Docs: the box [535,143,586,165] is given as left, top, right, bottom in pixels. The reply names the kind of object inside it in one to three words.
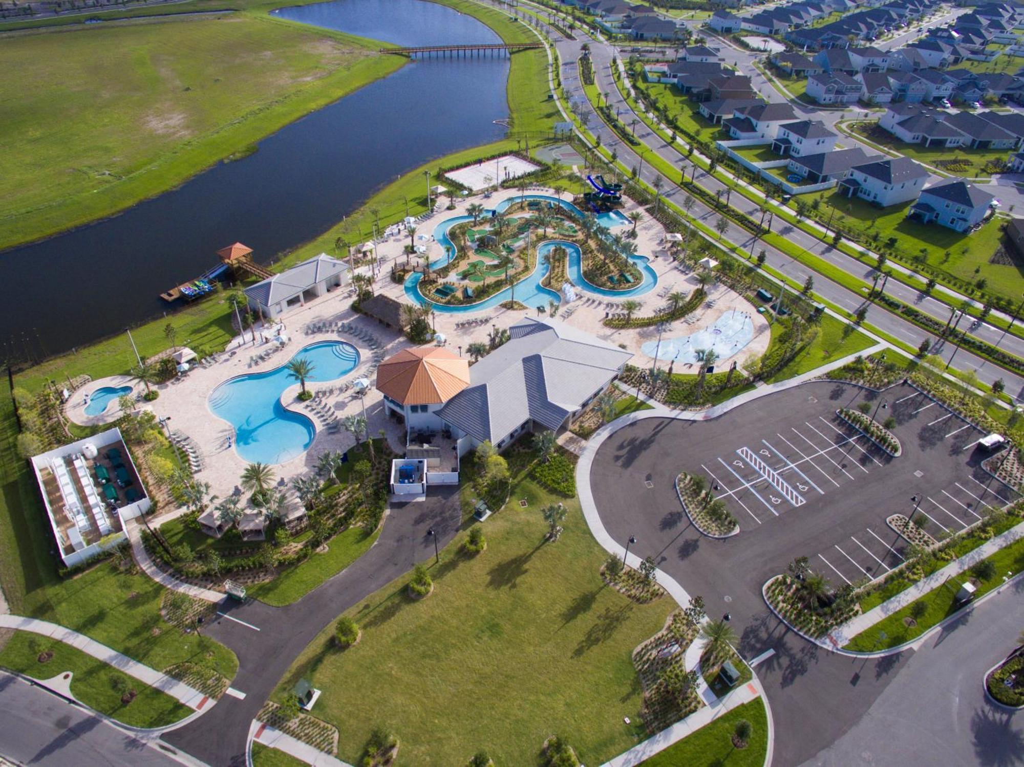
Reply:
basketball court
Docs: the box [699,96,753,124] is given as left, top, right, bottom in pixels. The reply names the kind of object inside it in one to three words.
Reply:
house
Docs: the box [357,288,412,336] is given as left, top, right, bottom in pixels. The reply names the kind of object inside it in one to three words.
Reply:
shed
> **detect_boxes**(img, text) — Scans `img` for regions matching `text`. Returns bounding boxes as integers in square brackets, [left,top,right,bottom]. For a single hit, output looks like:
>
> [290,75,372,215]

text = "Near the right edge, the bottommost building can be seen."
[988,215,1024,255]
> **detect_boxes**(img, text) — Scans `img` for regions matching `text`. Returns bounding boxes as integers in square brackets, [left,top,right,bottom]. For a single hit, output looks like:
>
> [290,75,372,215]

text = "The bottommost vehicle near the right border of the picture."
[978,430,1011,454]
